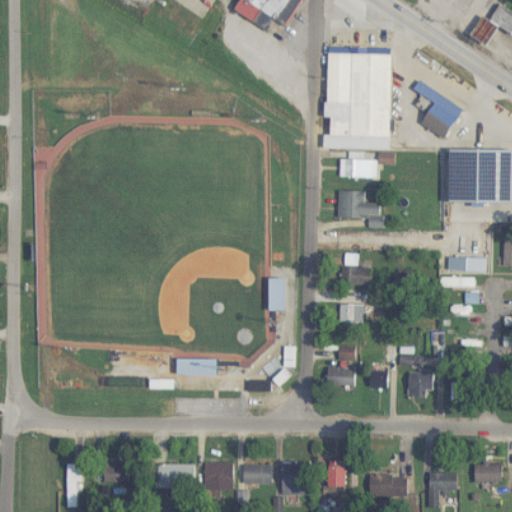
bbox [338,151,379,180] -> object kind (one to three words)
house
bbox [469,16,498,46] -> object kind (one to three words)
shed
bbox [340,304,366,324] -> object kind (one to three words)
house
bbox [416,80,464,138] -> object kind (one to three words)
building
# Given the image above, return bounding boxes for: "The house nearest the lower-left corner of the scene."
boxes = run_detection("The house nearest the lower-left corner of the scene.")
[66,464,86,508]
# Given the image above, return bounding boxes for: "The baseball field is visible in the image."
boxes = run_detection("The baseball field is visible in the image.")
[34,116,272,367]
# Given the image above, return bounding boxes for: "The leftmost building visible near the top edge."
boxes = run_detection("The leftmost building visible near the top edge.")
[240,0,309,34]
